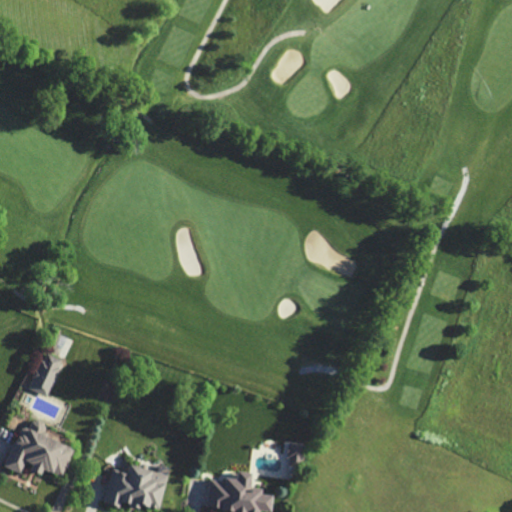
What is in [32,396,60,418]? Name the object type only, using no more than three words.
swimming pool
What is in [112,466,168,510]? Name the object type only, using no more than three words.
house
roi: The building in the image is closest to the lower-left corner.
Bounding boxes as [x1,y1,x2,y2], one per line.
[4,432,74,477]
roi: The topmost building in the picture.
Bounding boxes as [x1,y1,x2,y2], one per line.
[26,359,66,396]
